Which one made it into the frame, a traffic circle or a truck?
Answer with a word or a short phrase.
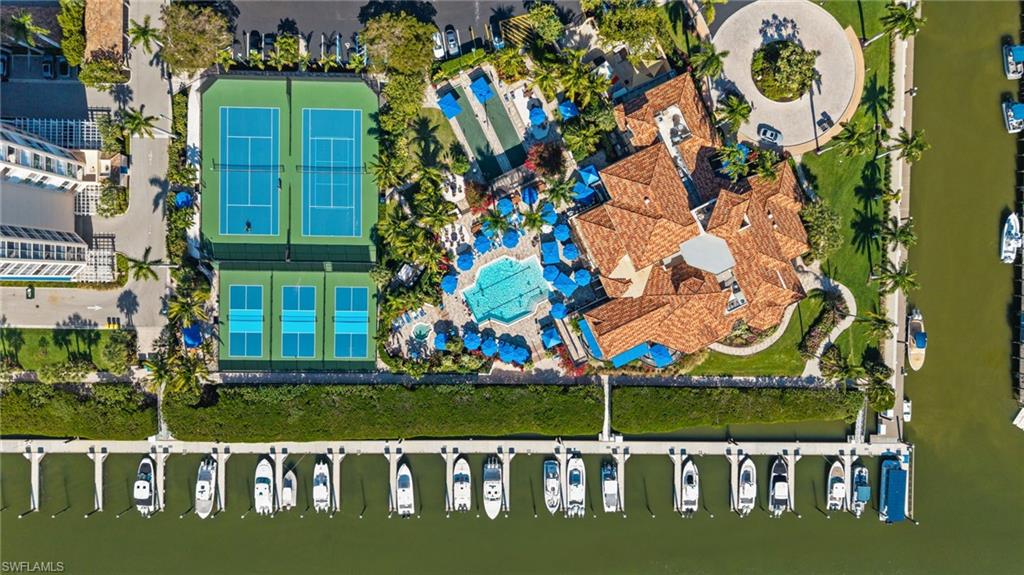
traffic circle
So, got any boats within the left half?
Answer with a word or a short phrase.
Yes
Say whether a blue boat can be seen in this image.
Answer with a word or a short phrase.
Yes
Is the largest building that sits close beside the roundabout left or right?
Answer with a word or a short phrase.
right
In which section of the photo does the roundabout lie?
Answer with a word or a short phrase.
top right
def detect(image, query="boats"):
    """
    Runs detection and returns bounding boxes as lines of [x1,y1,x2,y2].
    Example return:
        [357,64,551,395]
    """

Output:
[197,456,217,518]
[397,455,415,517]
[738,454,756,514]
[283,454,299,510]
[852,466,870,512]
[905,310,927,371]
[601,463,617,512]
[874,457,906,524]
[313,454,331,512]
[482,457,502,520]
[543,454,560,515]
[682,455,698,515]
[131,455,156,513]
[996,213,1020,265]
[253,454,275,514]
[999,95,1024,135]
[766,454,788,515]
[823,455,845,510]
[453,457,471,514]
[567,456,586,513]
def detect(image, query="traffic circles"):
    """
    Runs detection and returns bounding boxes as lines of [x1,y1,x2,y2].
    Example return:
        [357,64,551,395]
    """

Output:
[710,2,861,152]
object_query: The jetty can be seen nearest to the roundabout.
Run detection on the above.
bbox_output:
[870,0,920,441]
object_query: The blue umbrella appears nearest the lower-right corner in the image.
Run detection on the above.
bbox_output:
[649,344,674,367]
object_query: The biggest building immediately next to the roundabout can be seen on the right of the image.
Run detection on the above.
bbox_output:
[576,72,810,368]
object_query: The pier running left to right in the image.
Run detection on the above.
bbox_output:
[0,440,916,520]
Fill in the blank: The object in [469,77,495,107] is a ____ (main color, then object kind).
blue tent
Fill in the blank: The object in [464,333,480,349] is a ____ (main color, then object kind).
blue umbrella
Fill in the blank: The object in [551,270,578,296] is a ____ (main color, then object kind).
blue tent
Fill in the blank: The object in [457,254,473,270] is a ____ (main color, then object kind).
blue umbrella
